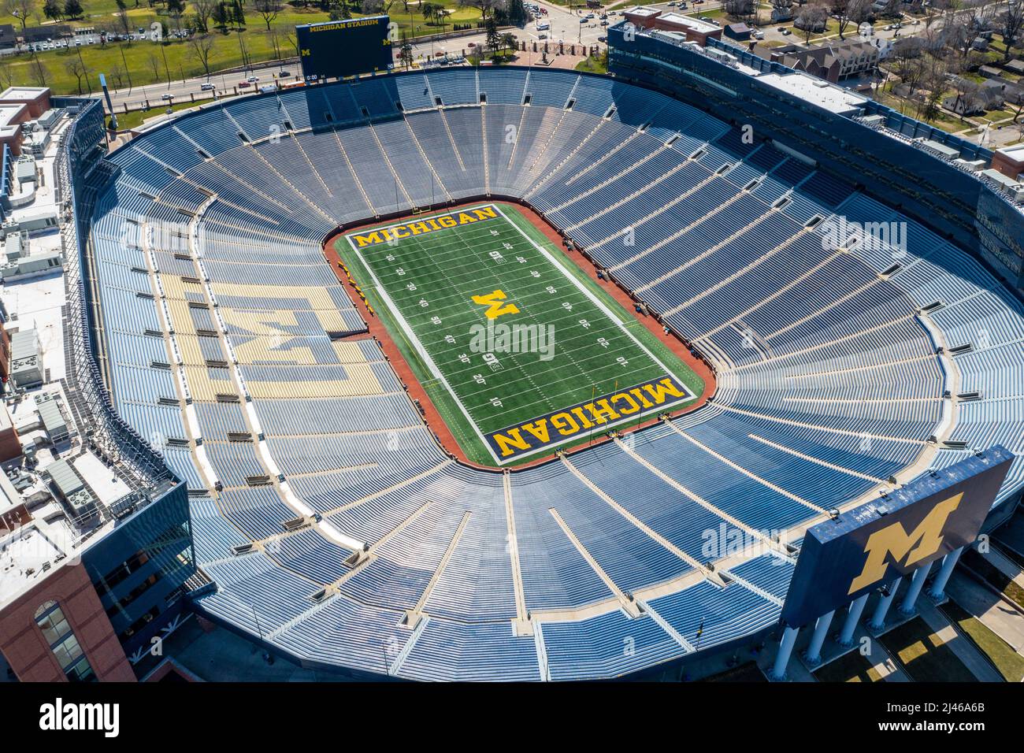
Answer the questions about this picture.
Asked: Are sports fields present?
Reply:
Yes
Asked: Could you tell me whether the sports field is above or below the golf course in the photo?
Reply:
below it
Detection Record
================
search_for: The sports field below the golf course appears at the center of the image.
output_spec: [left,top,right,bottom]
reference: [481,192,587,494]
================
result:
[358,217,668,434]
